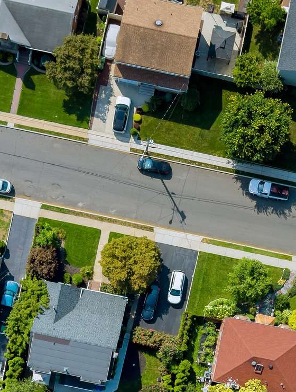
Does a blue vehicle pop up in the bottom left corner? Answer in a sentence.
Yes, I can see a blue vehicle in the bottom left corner.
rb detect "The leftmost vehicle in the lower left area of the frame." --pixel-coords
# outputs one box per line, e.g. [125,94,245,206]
[0,279,19,327]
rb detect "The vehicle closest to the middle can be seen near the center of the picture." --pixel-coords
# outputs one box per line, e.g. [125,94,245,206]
[137,156,172,177]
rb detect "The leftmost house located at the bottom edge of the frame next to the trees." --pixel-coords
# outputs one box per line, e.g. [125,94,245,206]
[28,278,129,392]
